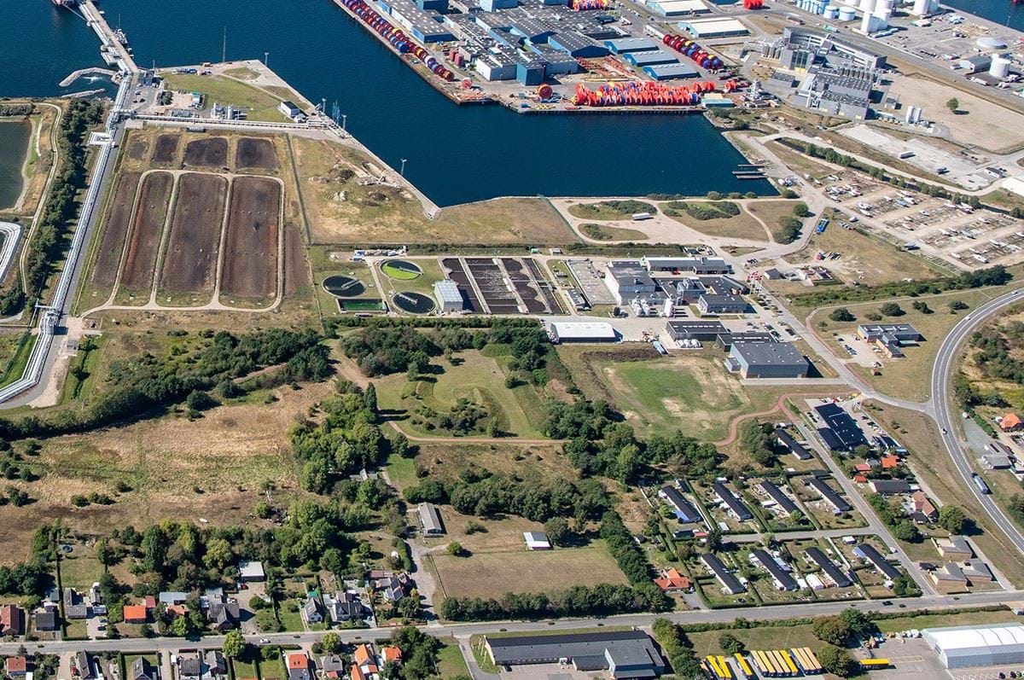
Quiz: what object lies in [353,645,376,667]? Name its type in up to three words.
house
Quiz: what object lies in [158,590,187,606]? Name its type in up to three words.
building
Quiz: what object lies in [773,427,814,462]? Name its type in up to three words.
house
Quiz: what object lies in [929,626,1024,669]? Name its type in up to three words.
hangar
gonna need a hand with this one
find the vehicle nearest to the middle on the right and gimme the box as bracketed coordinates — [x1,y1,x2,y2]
[652,337,667,352]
